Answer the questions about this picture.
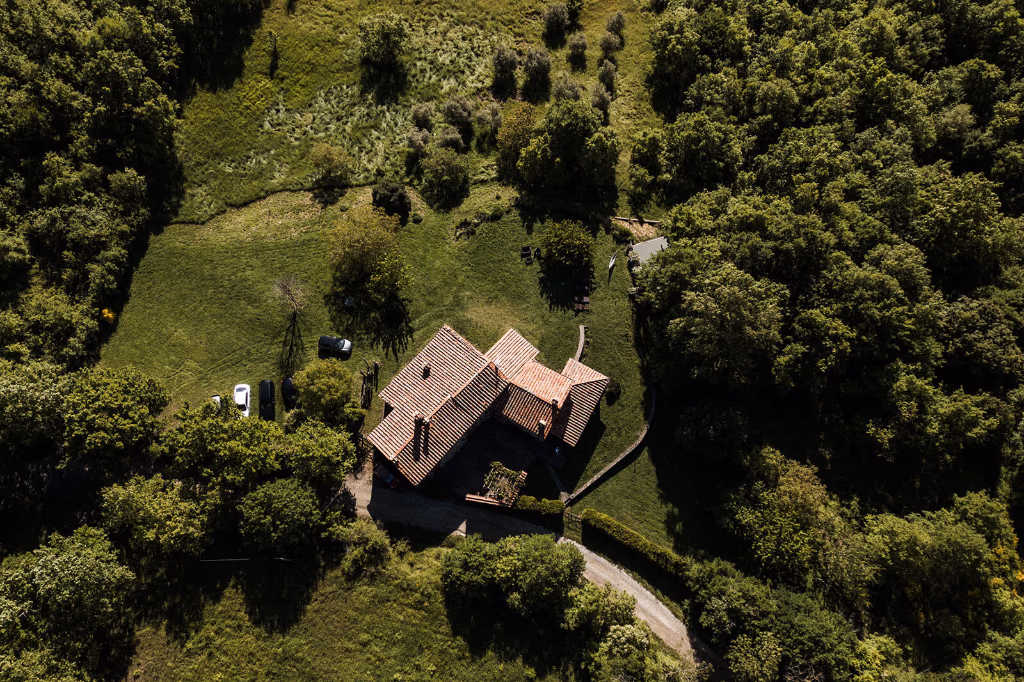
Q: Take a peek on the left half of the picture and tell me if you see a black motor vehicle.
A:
Yes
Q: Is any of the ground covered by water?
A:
No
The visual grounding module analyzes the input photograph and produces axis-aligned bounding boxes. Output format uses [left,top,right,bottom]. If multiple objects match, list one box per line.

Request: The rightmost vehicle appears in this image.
[369,463,401,495]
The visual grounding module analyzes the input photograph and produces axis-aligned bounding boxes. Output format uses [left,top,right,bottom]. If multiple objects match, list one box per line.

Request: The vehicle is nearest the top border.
[317,338,353,359]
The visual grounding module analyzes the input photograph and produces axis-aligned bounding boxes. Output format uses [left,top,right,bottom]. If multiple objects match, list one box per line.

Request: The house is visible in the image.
[366,327,610,490]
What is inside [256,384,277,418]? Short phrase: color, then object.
black car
